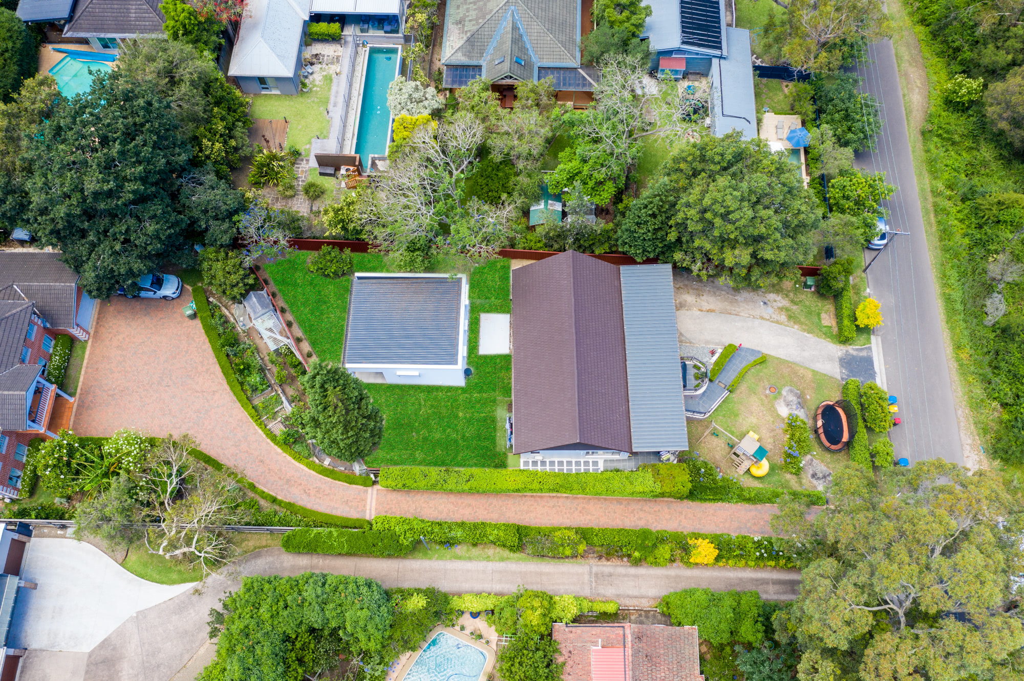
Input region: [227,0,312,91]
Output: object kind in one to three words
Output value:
house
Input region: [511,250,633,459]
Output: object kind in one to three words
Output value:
house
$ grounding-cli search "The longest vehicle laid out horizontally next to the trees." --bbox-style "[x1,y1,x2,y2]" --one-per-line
[114,269,180,297]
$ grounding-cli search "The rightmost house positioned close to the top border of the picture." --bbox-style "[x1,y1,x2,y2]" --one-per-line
[641,0,759,158]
